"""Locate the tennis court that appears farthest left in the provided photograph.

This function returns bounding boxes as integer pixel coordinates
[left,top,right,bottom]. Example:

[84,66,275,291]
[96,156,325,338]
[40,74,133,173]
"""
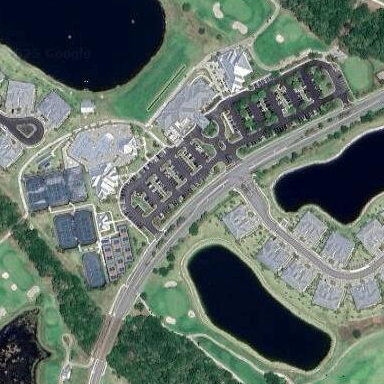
[22,174,50,210]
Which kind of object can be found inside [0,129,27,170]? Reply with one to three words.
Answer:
house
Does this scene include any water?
Yes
